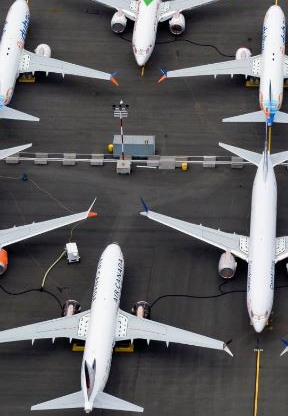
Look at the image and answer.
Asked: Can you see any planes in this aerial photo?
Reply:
Yes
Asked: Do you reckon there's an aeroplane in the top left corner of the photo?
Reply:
Yes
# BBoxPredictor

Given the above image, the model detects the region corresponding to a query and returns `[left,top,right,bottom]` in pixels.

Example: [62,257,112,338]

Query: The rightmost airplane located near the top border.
[157,6,288,129]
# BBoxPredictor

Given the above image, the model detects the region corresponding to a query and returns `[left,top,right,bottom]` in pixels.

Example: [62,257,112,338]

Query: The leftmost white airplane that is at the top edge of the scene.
[0,2,119,122]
